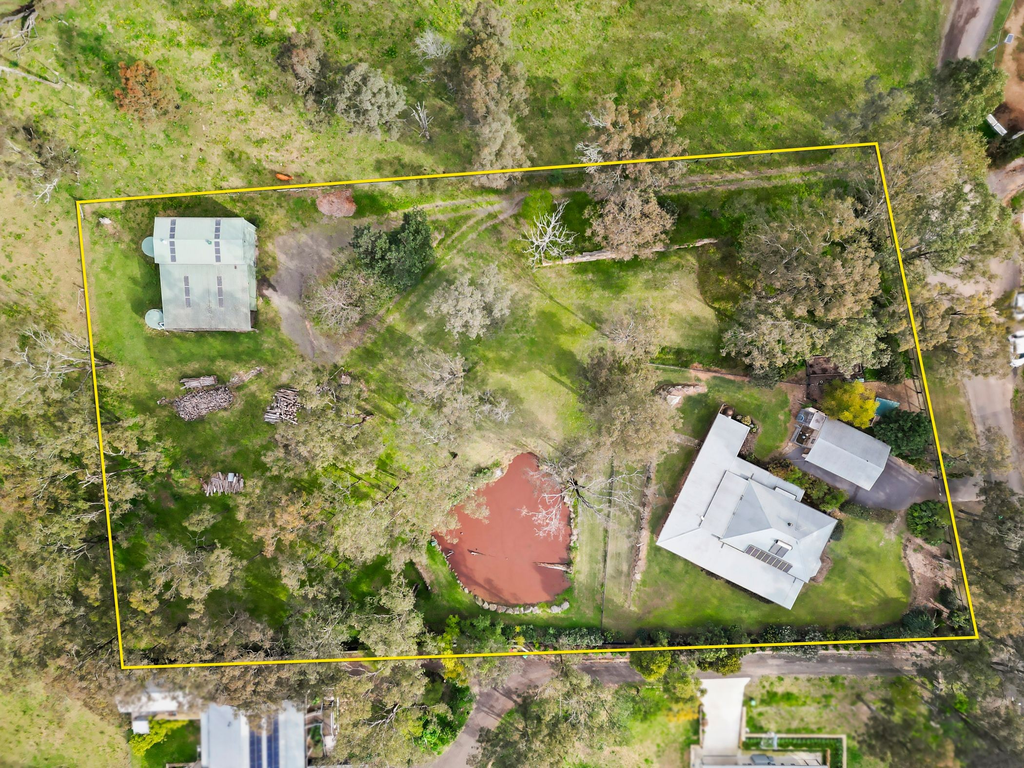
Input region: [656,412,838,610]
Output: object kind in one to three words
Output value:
house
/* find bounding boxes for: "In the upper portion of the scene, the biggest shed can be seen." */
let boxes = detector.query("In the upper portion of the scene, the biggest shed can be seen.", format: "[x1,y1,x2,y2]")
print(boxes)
[152,217,258,331]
